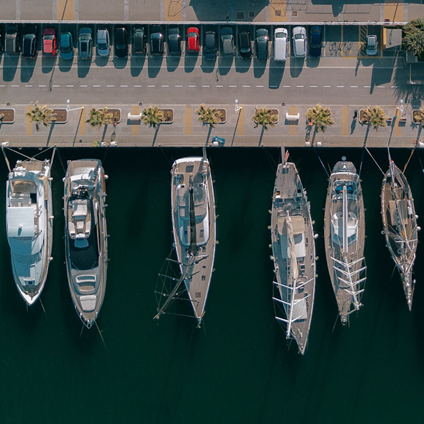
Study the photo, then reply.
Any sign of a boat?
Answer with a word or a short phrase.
Yes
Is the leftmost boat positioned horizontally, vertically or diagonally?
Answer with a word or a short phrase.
vertically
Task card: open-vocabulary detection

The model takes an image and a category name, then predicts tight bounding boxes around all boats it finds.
[265,146,319,356]
[149,147,219,343]
[1,147,56,312]
[57,149,109,346]
[365,142,422,310]
[315,148,372,329]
